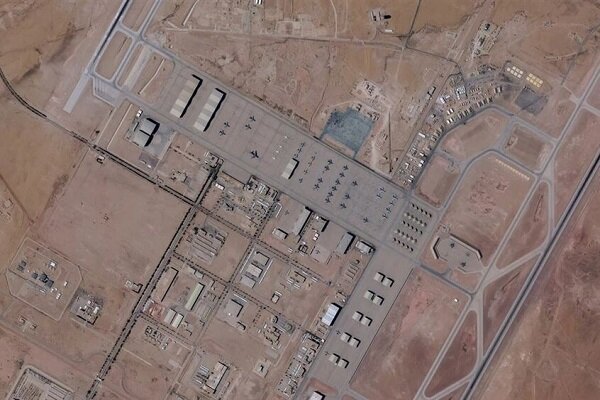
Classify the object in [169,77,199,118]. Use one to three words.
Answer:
hangar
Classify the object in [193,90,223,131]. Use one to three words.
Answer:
hangar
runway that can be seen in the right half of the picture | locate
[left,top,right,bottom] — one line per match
[459,142,600,400]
